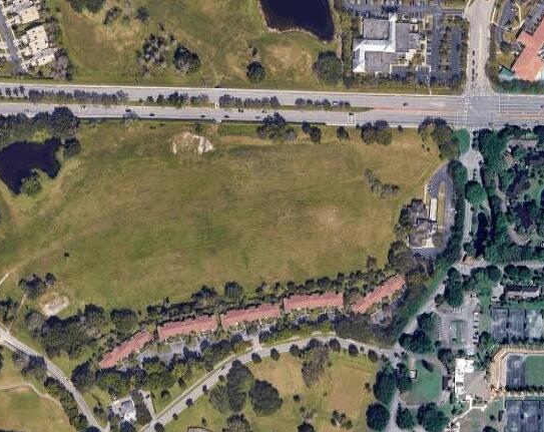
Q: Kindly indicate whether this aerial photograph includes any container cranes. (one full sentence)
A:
No, this view has no container crane in it.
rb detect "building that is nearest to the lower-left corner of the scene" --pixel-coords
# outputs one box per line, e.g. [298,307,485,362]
[112,401,134,421]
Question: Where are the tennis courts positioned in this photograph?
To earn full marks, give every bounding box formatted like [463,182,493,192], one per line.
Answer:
[522,400,539,432]
[506,355,524,389]
[505,400,523,432]
[491,309,509,340]
[509,309,526,340]
[525,310,544,340]
[525,355,544,388]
